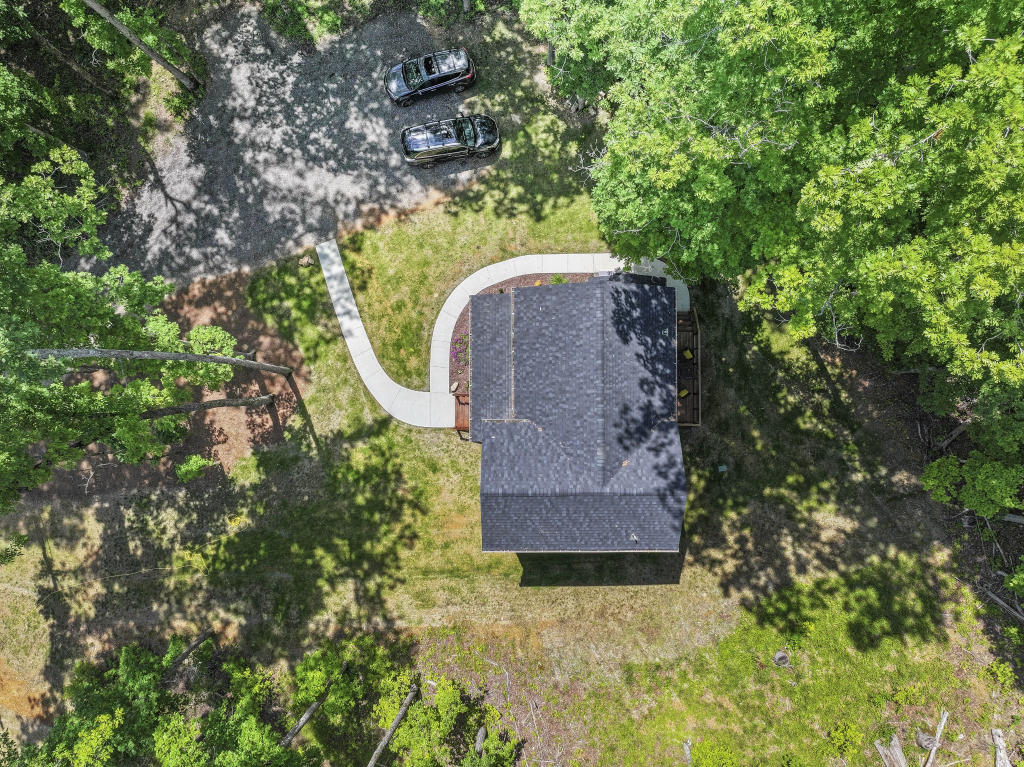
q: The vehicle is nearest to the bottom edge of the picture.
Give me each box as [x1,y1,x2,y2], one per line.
[402,112,502,170]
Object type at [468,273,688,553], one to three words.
house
